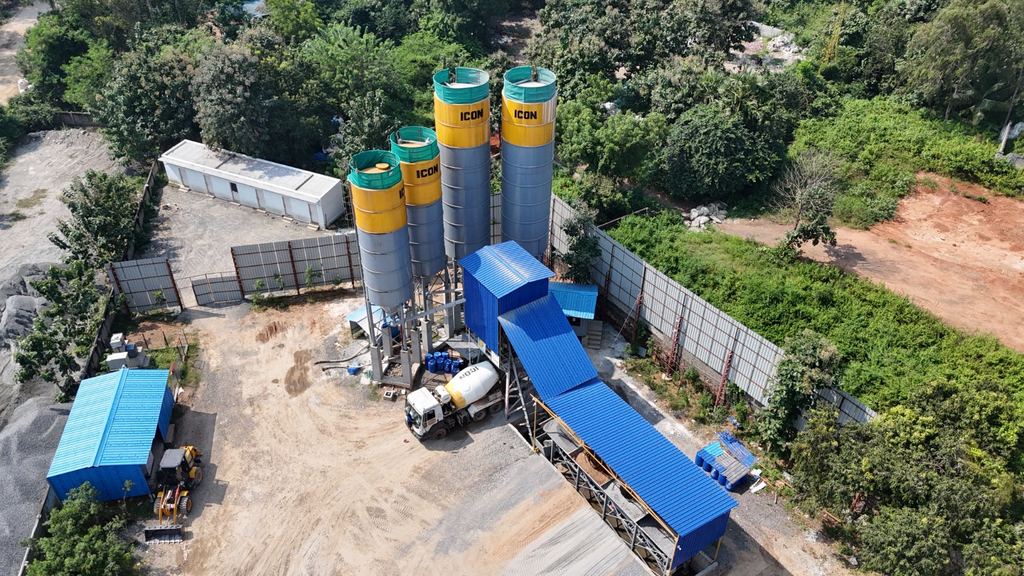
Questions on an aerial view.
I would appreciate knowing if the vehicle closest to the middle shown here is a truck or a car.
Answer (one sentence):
The vehicle closest to the middle appears to be a truck.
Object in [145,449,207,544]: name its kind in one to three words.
work vehicle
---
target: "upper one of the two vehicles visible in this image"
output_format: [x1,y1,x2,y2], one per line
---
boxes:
[404,366,513,445]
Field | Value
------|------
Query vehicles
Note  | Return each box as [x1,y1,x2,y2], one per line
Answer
[404,366,513,445]
[145,449,207,544]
